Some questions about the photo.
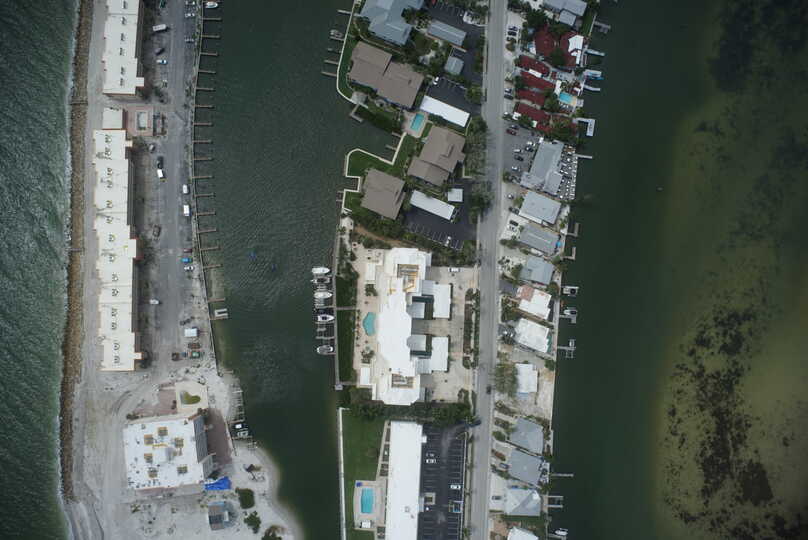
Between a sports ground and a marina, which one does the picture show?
marina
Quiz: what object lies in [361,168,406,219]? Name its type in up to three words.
house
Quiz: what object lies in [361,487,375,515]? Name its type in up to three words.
swimming pool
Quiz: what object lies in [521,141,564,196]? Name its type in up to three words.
building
